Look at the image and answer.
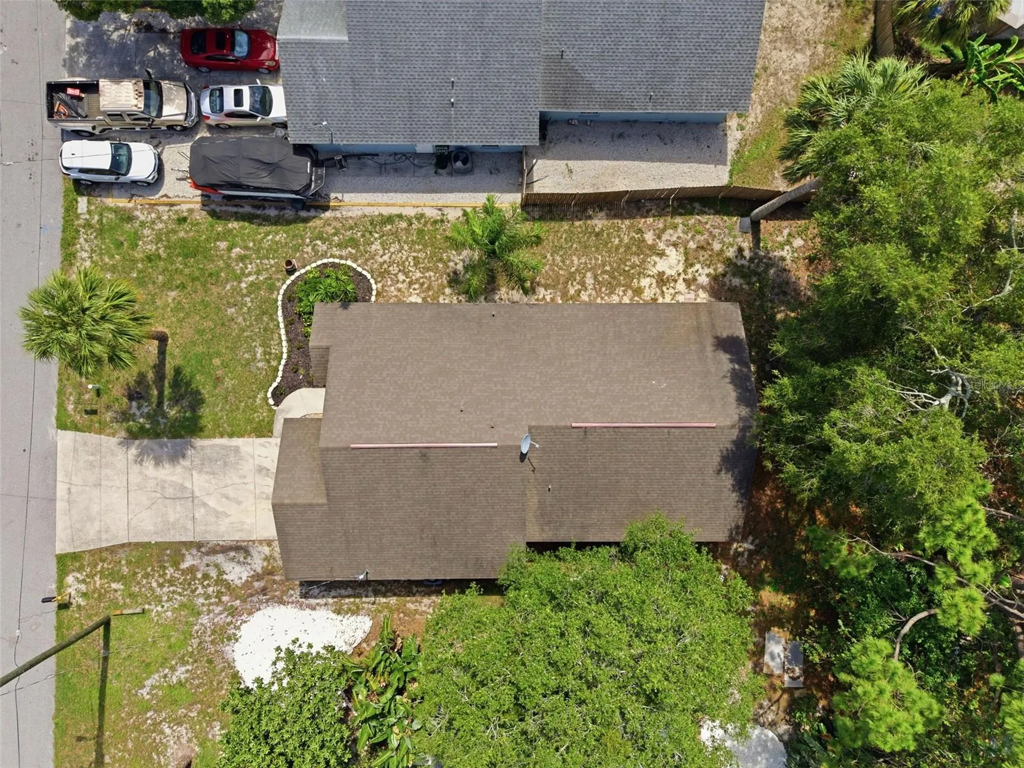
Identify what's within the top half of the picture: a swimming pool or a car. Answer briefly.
car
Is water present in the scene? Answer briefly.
No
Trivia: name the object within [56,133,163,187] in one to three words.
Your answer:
car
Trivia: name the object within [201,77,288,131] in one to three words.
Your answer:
car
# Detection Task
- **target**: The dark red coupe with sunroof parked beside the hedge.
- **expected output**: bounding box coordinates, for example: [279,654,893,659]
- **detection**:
[179,21,281,76]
